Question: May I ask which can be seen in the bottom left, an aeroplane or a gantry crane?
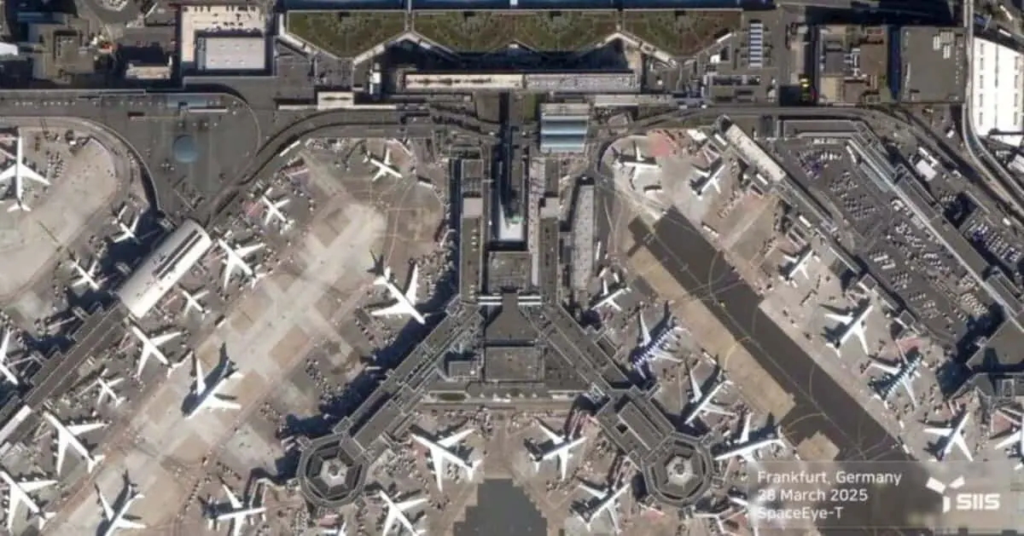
aeroplane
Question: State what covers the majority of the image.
paved ground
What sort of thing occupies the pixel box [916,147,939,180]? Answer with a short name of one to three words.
building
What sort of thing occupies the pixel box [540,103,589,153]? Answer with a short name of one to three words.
building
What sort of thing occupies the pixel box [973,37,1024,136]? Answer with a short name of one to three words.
hangar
